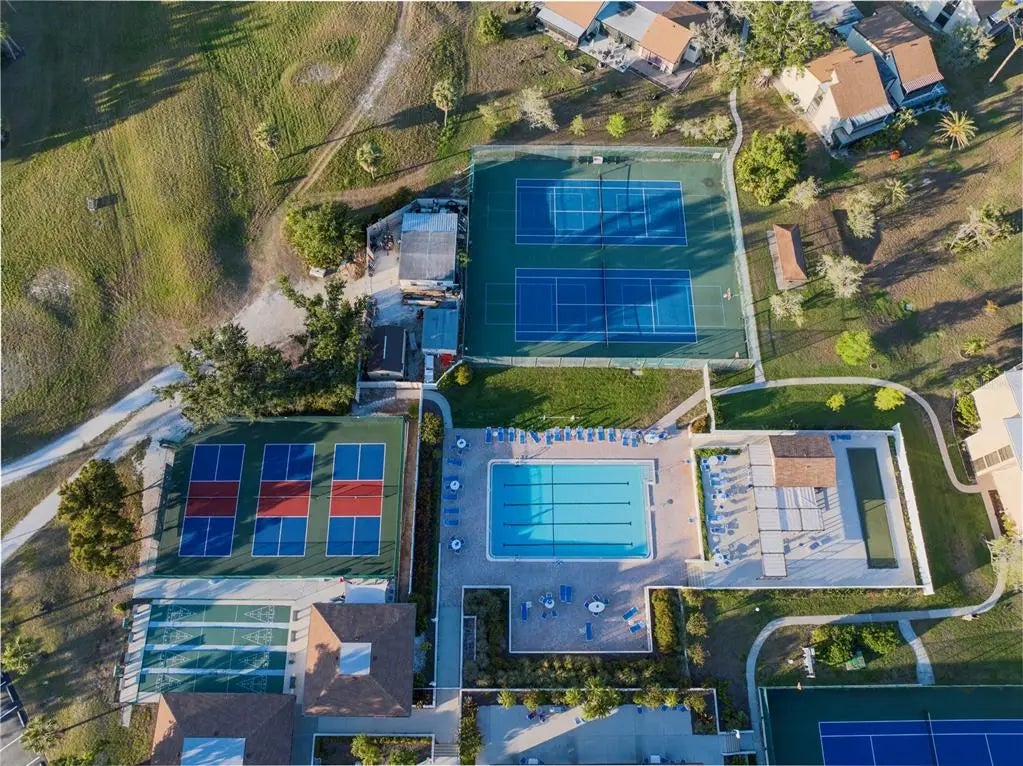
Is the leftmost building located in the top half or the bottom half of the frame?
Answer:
bottom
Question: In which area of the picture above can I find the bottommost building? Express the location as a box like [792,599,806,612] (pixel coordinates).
[149,692,297,766]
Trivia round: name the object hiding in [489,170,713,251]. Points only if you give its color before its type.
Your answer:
blue tennis court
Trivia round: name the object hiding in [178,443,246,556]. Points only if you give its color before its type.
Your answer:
blue sports court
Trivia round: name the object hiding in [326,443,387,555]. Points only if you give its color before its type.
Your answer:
blue sports court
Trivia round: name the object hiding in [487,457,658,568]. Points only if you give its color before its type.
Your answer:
blue swimming pool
